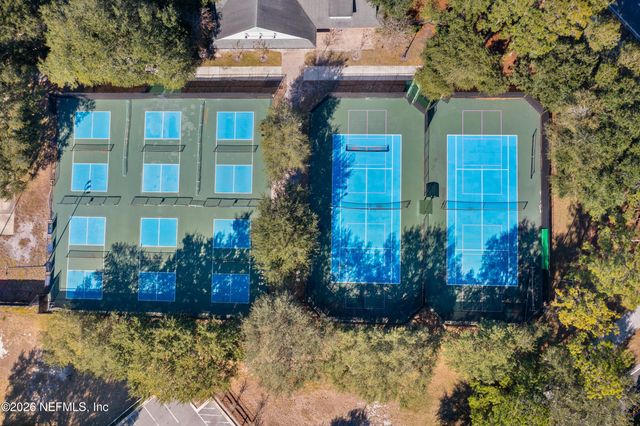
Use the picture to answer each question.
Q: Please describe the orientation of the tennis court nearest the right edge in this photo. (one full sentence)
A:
What the image shows is the tennis court nearest the right edge lying from top to bottom.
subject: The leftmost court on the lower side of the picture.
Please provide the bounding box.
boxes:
[66,217,106,299]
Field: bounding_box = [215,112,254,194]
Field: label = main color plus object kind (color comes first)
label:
blue sports court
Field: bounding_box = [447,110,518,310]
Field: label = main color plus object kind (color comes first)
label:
blue tennis court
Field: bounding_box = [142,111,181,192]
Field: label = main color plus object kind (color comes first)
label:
blue sports court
